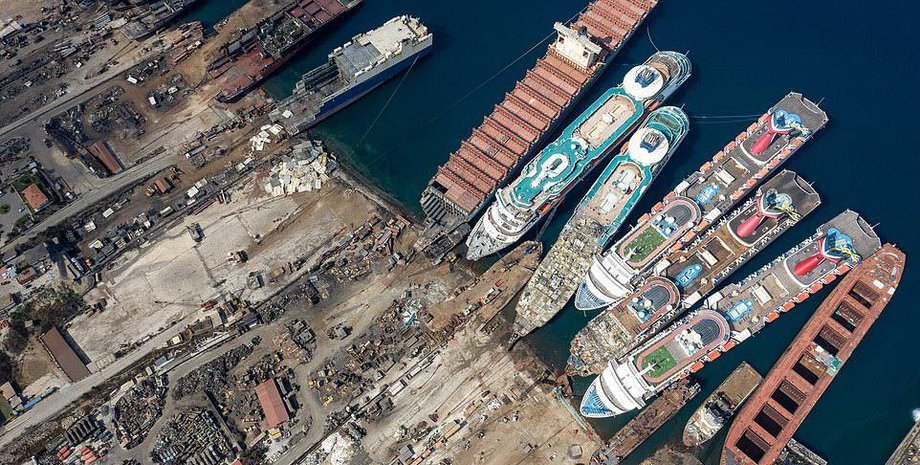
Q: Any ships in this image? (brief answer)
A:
Yes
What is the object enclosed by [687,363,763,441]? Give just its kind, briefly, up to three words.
ship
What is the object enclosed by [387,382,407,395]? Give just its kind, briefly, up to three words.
vehicle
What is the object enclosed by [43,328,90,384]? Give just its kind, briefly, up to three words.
shed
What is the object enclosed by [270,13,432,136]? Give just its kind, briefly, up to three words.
ship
